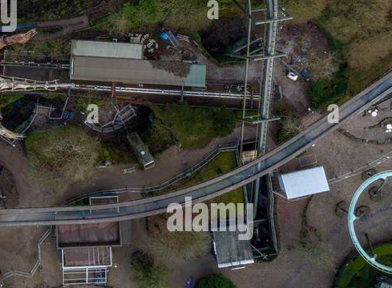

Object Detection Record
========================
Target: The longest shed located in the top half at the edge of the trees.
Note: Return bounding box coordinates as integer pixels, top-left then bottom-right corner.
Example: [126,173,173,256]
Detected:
[68,40,206,88]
